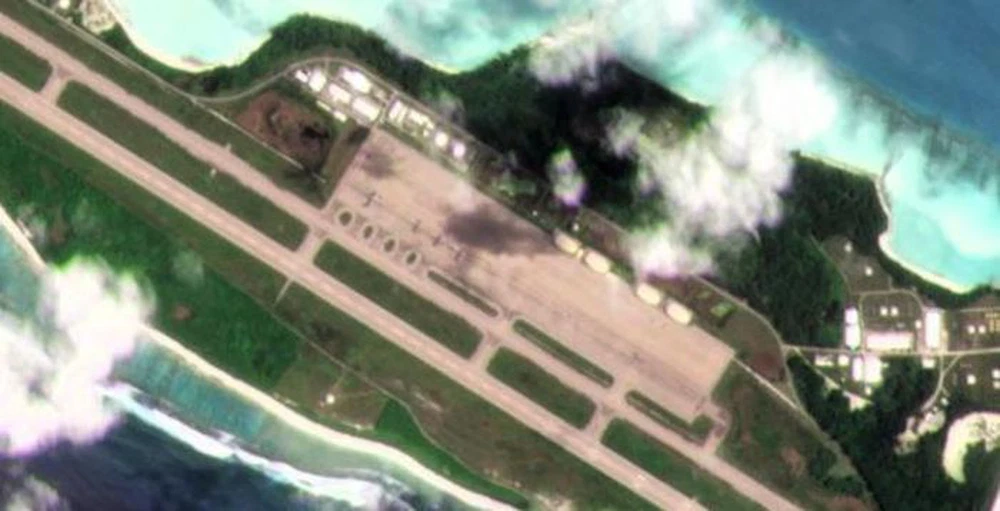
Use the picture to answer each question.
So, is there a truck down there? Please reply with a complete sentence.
No, the frame has no truck in it.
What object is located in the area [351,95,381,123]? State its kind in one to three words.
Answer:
building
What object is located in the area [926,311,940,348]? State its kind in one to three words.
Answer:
building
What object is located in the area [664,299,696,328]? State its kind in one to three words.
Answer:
hangar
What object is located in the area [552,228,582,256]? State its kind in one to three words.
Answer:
hangar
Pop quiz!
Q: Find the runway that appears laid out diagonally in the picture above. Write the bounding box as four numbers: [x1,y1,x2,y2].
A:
[0,72,707,511]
